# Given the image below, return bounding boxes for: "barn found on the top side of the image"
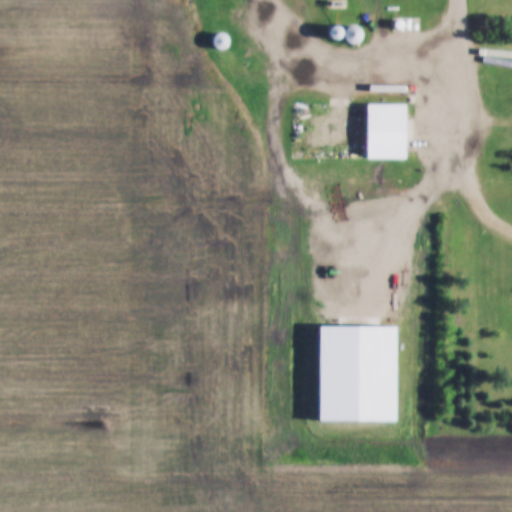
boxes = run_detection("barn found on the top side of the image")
[366,102,407,160]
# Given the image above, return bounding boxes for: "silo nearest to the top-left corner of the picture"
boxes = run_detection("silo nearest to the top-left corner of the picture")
[212,32,232,52]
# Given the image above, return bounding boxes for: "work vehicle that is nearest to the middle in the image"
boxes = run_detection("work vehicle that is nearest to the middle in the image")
[326,266,342,279]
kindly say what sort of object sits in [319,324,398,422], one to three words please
barn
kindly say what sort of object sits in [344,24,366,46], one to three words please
silo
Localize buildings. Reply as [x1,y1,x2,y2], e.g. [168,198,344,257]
[366,102,407,160]
[319,324,398,422]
